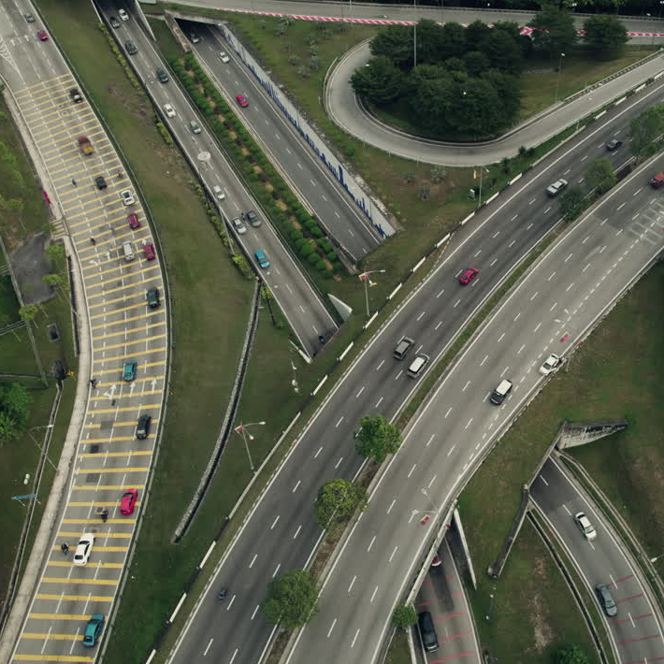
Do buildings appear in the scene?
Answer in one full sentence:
No, this view has no building in it.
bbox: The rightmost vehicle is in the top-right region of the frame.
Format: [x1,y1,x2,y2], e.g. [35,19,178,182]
[646,170,664,189]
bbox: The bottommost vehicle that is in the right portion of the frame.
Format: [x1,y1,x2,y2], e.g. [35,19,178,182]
[419,614,438,651]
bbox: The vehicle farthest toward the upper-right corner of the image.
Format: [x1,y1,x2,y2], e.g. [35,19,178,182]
[603,136,625,153]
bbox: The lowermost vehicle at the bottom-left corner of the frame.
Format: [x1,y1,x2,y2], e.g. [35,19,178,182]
[81,611,106,650]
